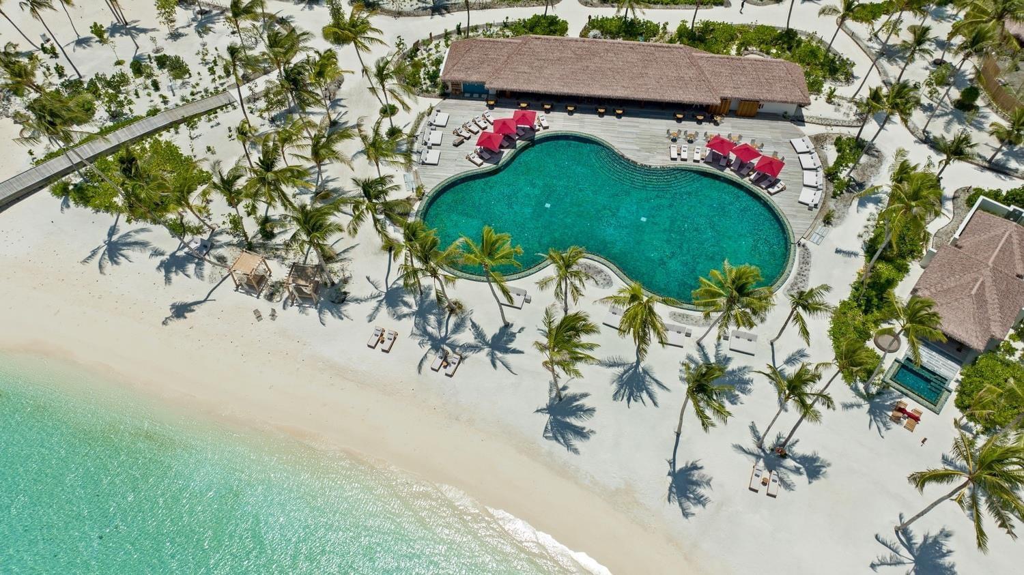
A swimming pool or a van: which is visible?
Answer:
swimming pool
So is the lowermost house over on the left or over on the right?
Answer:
right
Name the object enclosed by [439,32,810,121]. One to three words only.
building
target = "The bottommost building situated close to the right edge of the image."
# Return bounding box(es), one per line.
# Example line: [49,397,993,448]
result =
[900,198,1024,380]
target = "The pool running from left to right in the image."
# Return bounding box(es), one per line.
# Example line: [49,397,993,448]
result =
[414,130,796,313]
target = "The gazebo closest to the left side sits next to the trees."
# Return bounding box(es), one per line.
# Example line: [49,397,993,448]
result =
[227,248,271,291]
